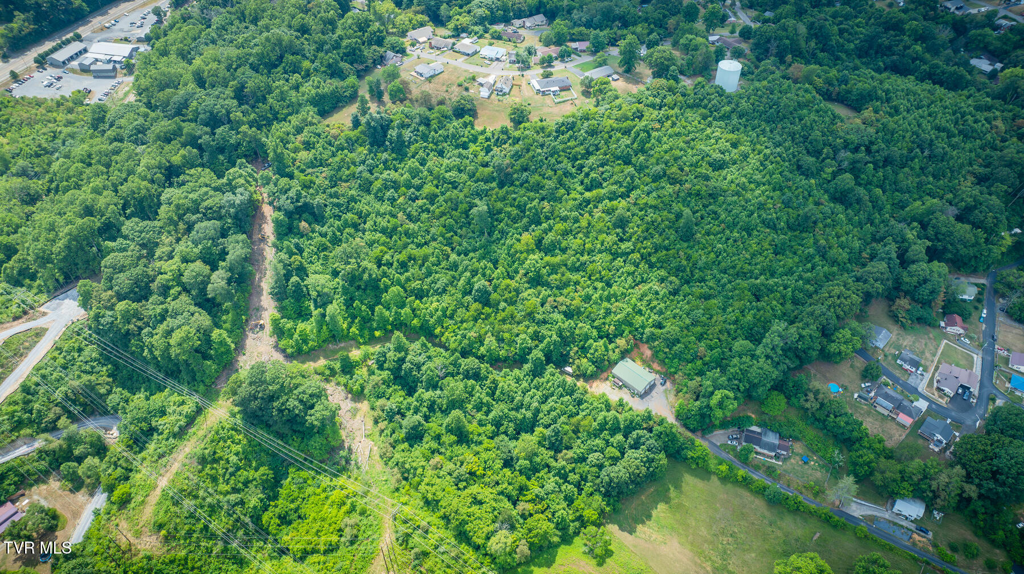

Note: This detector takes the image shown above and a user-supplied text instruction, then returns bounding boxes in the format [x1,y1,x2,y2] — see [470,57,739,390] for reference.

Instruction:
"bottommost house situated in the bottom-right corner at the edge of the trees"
[893,489,925,523]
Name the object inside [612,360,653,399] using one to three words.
building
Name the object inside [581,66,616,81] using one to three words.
house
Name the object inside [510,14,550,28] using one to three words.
house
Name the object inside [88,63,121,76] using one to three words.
shed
